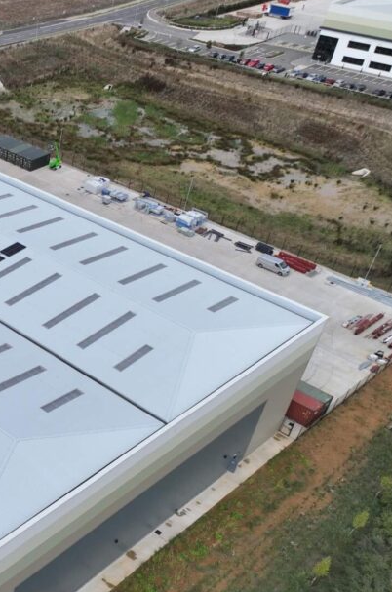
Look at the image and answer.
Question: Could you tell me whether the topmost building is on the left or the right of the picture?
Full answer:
It is on the right.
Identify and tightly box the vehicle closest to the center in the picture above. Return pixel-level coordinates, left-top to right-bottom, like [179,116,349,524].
[256,253,292,275]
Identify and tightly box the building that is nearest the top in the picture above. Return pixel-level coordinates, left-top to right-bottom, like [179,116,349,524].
[310,0,392,78]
